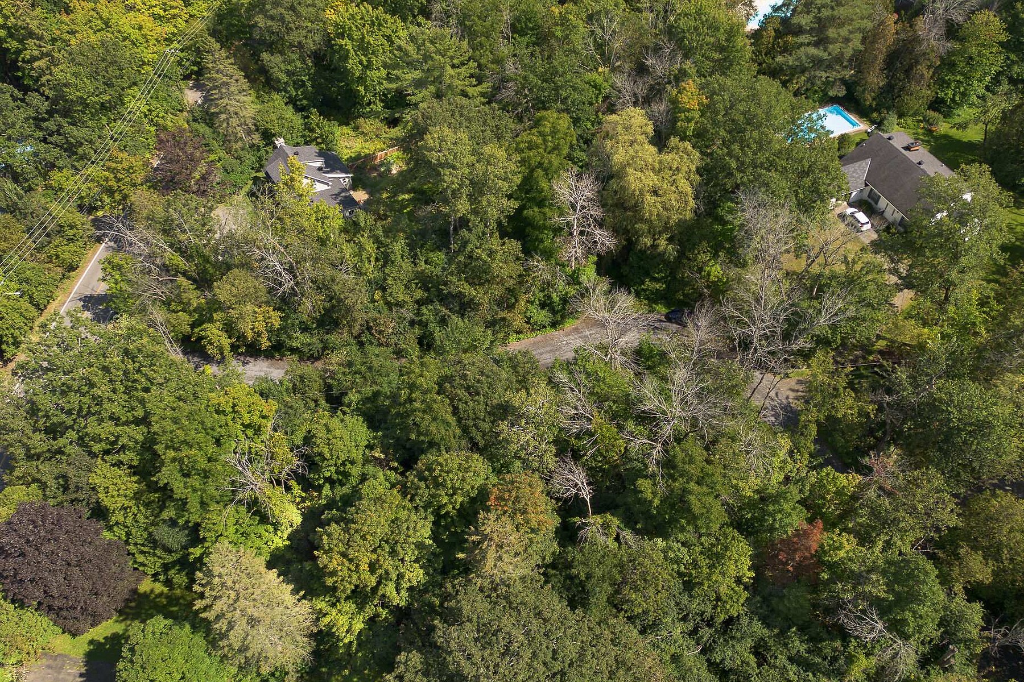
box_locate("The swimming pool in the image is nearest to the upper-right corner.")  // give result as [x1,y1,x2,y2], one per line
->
[816,101,869,142]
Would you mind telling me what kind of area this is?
forest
